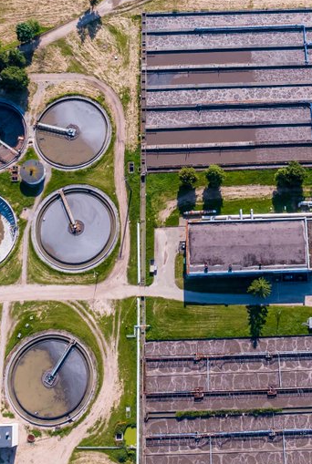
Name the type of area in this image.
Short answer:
industrial area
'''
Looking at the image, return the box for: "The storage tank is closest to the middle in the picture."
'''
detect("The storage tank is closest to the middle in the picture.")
[31,184,120,273]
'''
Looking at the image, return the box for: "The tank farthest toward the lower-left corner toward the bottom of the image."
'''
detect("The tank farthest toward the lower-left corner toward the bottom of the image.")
[4,330,97,429]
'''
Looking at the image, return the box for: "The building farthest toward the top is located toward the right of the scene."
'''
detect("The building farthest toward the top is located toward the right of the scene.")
[180,217,312,283]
